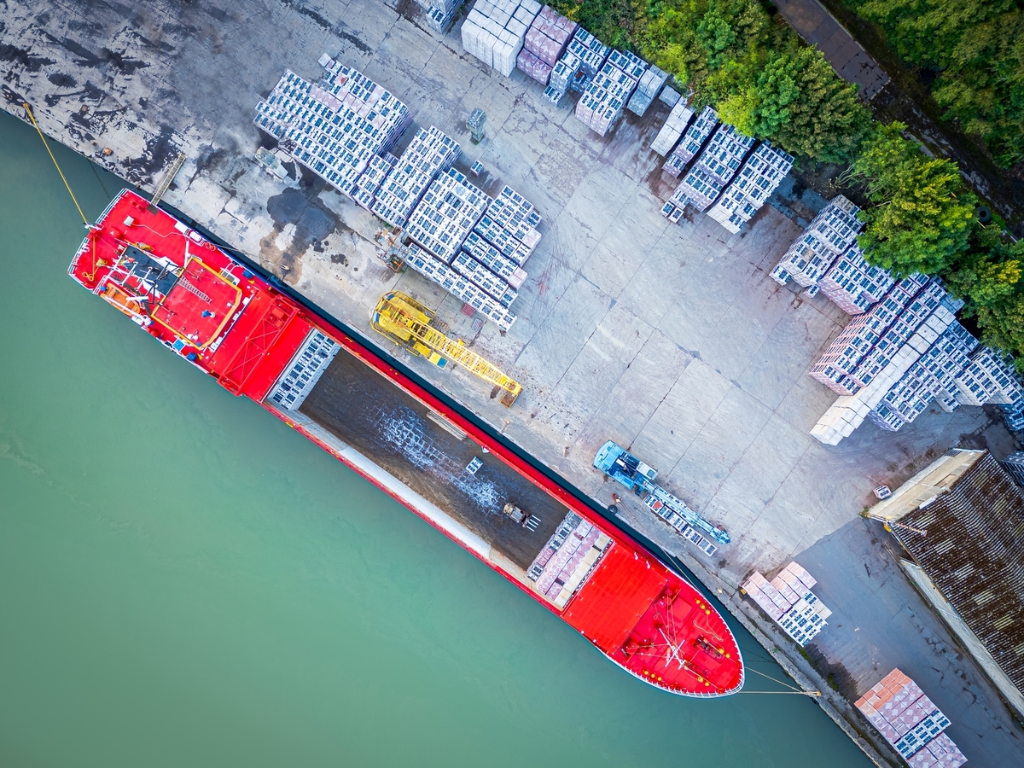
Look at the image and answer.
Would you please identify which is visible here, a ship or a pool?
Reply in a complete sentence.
There is a ship in the scene.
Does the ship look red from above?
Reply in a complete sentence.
Yes, the ship is indeed red.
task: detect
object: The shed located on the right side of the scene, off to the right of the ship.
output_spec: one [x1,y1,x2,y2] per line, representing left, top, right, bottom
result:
[867,446,1024,712]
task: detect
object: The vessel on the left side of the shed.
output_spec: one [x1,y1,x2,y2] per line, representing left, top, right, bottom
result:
[65,189,747,701]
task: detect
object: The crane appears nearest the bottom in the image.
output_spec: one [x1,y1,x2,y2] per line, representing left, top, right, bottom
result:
[592,439,731,544]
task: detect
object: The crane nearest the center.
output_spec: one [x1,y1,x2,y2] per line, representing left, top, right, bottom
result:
[370,291,524,408]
